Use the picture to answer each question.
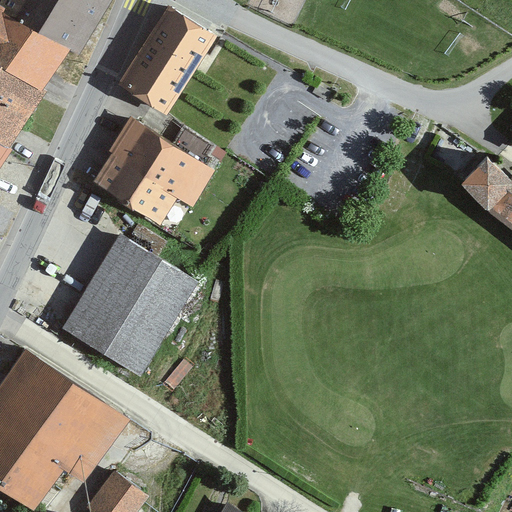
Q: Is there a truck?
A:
Yes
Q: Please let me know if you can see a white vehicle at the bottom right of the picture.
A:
No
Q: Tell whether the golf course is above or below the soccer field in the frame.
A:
below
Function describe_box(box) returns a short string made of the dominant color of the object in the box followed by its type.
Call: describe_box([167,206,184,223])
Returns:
white umbrella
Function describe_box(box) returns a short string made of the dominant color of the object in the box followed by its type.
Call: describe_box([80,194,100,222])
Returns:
white vehicle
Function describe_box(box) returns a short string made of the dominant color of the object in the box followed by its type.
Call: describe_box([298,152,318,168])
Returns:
white car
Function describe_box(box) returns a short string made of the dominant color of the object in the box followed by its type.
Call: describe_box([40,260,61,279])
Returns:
white work vehicle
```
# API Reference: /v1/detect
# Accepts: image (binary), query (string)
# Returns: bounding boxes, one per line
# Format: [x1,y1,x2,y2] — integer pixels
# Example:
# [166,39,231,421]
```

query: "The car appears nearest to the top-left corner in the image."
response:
[12,141,34,160]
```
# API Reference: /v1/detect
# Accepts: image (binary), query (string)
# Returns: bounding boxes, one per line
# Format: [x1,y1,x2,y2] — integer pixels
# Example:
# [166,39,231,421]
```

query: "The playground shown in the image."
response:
[242,0,306,24]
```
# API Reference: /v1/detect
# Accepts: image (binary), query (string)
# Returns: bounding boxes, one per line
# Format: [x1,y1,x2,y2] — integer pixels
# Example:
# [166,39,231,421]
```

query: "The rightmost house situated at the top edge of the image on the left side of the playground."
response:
[118,4,218,113]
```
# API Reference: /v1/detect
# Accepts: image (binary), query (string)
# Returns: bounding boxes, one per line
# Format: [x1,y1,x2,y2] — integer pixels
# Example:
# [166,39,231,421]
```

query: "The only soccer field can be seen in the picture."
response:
[291,0,512,82]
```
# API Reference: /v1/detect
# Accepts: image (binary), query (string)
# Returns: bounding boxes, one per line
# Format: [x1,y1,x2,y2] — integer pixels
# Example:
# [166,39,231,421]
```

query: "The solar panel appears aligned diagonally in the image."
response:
[175,54,202,92]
